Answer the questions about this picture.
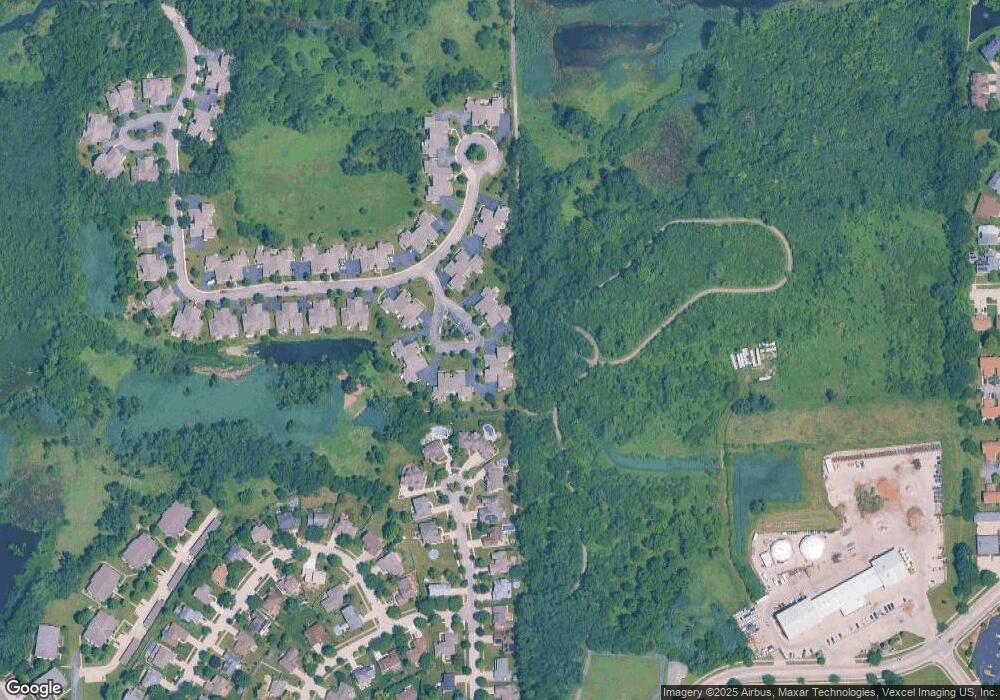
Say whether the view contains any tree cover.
Yes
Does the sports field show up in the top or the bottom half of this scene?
bottom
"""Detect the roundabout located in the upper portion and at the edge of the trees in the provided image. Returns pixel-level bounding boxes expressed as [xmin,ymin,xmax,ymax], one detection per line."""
[454,129,500,174]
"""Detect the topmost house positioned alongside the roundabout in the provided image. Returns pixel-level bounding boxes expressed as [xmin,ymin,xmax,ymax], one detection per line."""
[467,95,504,124]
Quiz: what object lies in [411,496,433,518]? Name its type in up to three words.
house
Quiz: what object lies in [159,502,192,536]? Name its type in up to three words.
building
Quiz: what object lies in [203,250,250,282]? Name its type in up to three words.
house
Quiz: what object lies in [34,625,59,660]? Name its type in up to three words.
building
